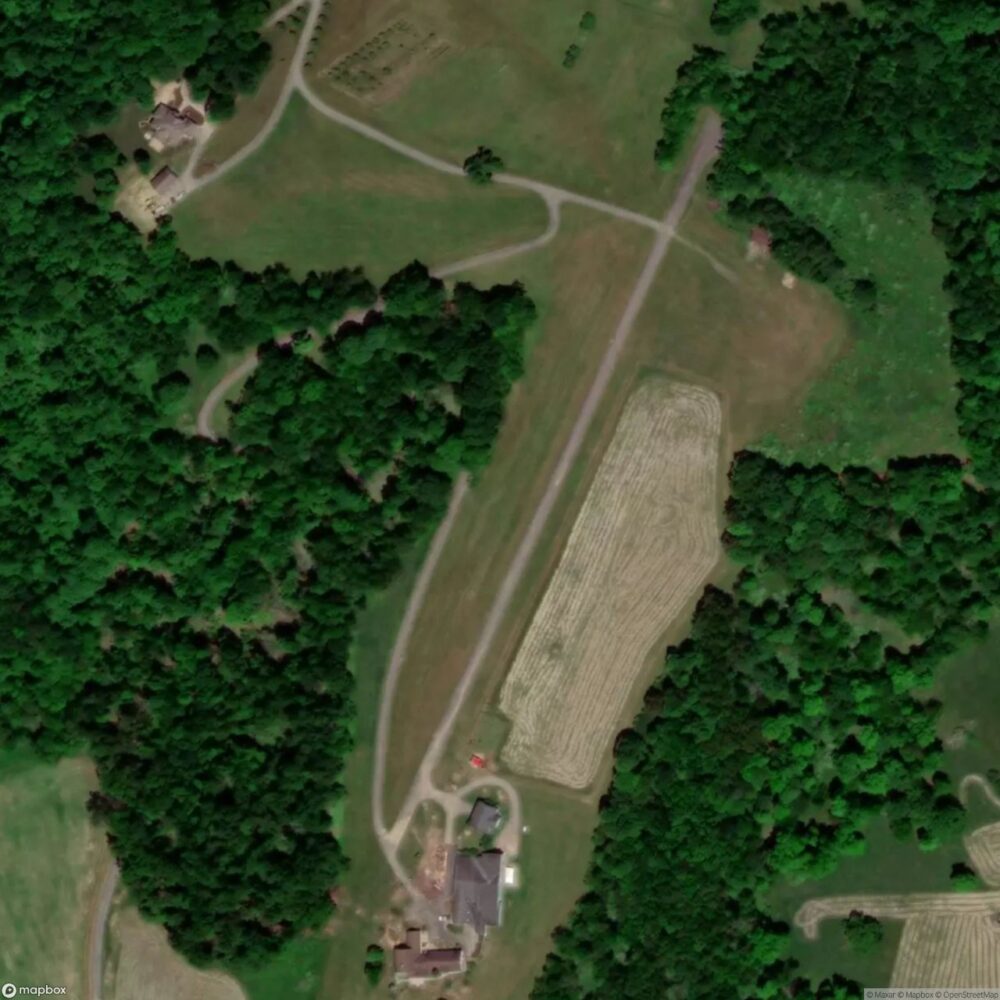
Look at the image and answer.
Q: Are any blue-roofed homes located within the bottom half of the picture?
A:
No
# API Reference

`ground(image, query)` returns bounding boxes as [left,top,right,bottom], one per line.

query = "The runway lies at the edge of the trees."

[385,108,723,846]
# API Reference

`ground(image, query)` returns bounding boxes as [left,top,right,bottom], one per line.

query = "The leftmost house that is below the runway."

[395,931,461,977]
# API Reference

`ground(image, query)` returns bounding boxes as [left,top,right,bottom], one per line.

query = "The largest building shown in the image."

[453,854,500,935]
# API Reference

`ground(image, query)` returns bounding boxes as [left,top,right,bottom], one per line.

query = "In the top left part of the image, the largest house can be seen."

[152,104,196,147]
